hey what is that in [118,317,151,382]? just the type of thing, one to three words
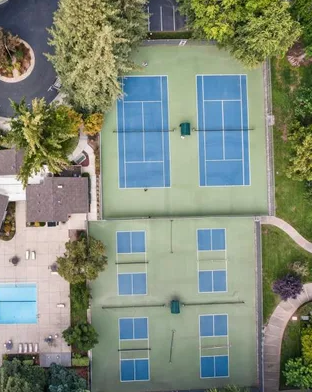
sports court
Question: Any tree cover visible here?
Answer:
Yes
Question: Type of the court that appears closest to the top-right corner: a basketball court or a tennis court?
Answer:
tennis court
